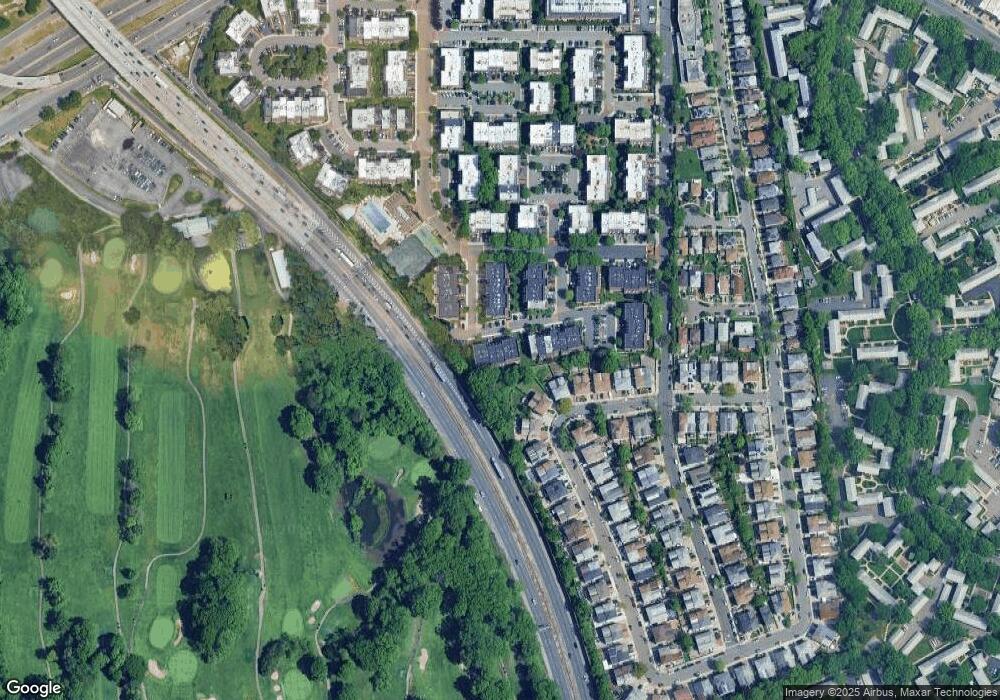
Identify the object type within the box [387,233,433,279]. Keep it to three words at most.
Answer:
tennis court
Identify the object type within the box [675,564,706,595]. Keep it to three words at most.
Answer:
house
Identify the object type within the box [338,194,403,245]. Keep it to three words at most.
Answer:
swimming pool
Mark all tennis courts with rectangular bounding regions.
[415,225,444,257]
[387,233,433,279]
